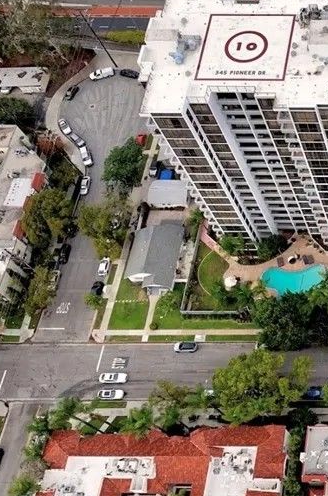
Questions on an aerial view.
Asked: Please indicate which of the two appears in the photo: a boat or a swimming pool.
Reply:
swimming pool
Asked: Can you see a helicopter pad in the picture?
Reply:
Yes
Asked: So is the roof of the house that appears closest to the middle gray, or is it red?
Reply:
gray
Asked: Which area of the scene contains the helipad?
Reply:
top right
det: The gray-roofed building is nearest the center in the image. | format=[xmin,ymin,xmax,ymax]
[125,225,187,293]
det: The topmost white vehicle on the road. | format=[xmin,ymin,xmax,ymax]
[91,68,116,80]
